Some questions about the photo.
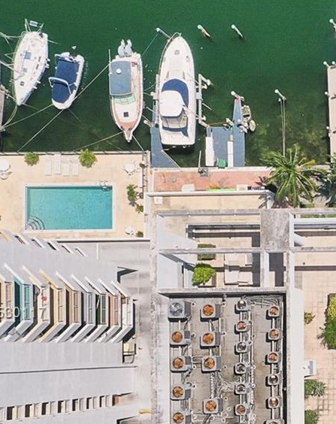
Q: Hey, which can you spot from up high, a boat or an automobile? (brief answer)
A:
boat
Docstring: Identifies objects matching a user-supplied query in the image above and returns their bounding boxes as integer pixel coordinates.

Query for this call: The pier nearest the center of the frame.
[152,126,176,167]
